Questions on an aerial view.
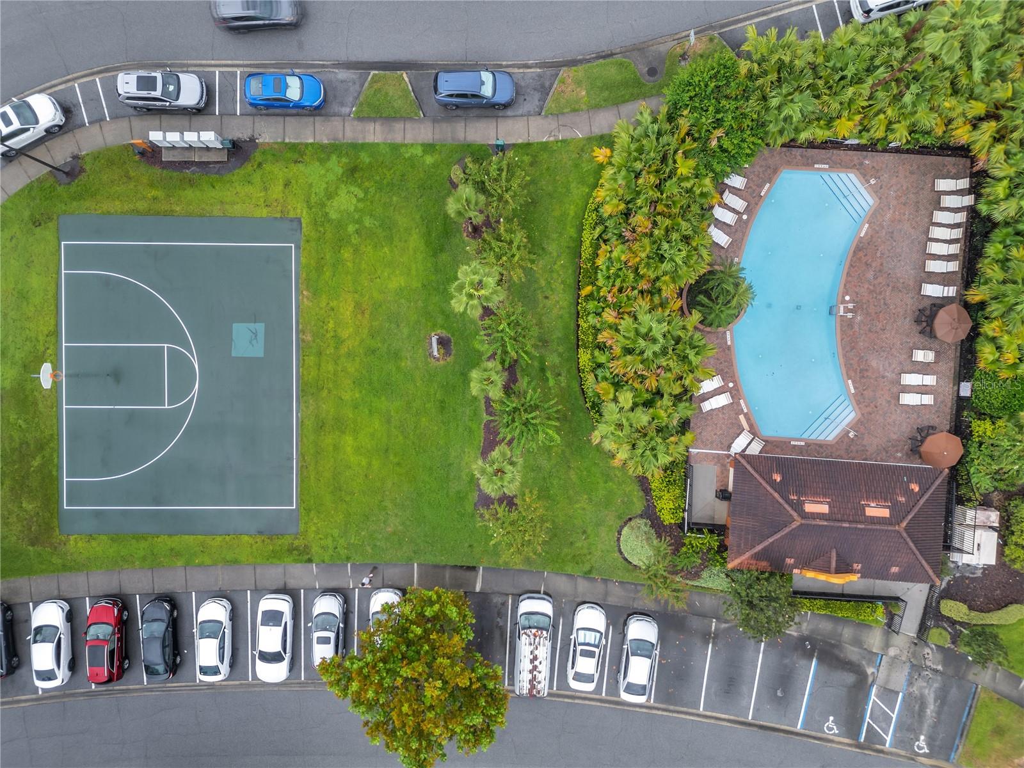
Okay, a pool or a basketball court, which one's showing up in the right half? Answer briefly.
pool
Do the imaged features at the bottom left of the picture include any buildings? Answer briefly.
No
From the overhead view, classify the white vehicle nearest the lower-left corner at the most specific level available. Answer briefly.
automobile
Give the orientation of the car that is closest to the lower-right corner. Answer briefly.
vertically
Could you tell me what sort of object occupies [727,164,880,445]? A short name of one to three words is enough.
swimming pool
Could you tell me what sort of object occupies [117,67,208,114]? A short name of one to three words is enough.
car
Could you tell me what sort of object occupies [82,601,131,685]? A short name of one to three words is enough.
car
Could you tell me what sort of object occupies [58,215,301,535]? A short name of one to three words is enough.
basketball court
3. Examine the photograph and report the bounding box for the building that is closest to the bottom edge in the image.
[723,453,952,587]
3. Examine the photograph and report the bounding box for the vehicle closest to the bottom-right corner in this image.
[614,615,658,700]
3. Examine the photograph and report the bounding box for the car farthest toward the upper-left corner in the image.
[0,101,68,161]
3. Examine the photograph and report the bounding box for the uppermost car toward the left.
[219,0,302,34]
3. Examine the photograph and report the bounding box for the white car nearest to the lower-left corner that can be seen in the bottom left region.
[27,601,77,687]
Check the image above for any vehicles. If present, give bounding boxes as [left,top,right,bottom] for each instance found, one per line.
[243,70,323,113]
[191,599,236,682]
[27,601,77,687]
[0,101,68,161]
[253,602,296,686]
[614,615,658,700]
[82,601,131,685]
[137,599,183,681]
[219,0,302,34]
[568,604,608,689]
[847,0,922,24]
[0,600,21,682]
[117,67,208,114]
[515,594,558,696]
[306,595,348,674]
[435,66,516,111]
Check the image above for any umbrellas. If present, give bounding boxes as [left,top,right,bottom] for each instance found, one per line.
[911,428,959,467]
[921,302,969,344]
